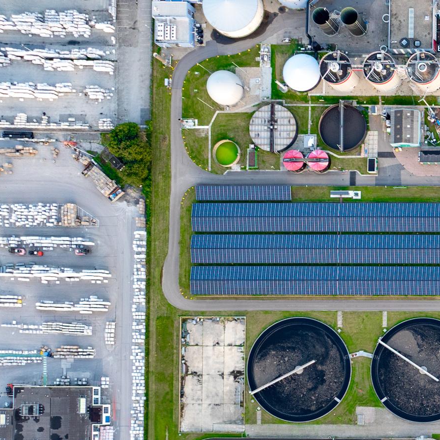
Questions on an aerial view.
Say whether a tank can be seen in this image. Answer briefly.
Yes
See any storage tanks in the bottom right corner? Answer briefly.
Yes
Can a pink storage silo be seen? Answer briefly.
Yes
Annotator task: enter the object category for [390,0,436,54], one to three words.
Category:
building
